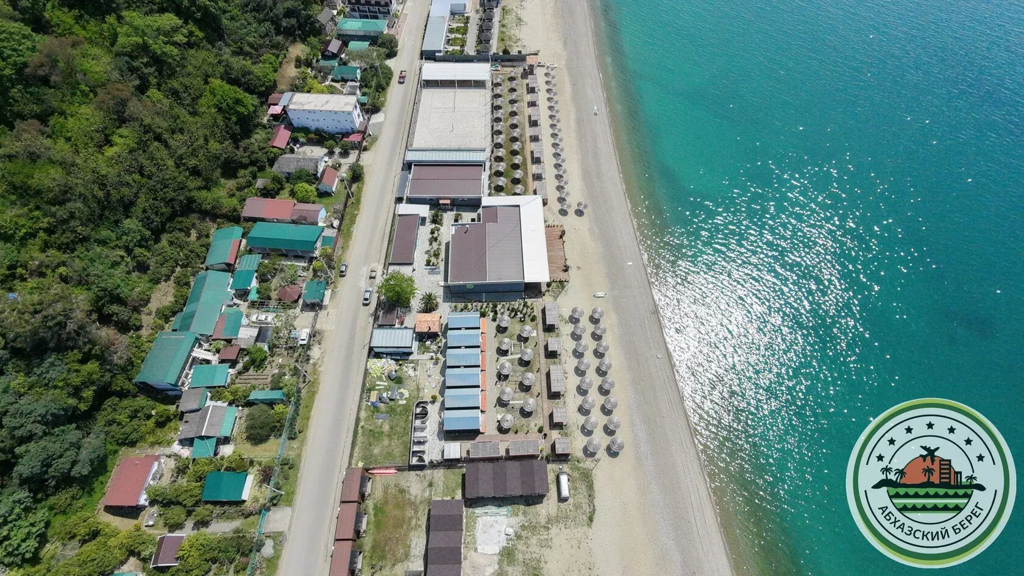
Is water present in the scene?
Yes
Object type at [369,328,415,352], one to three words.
house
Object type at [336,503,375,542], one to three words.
building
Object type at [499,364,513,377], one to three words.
umbrella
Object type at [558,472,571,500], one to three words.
vehicle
